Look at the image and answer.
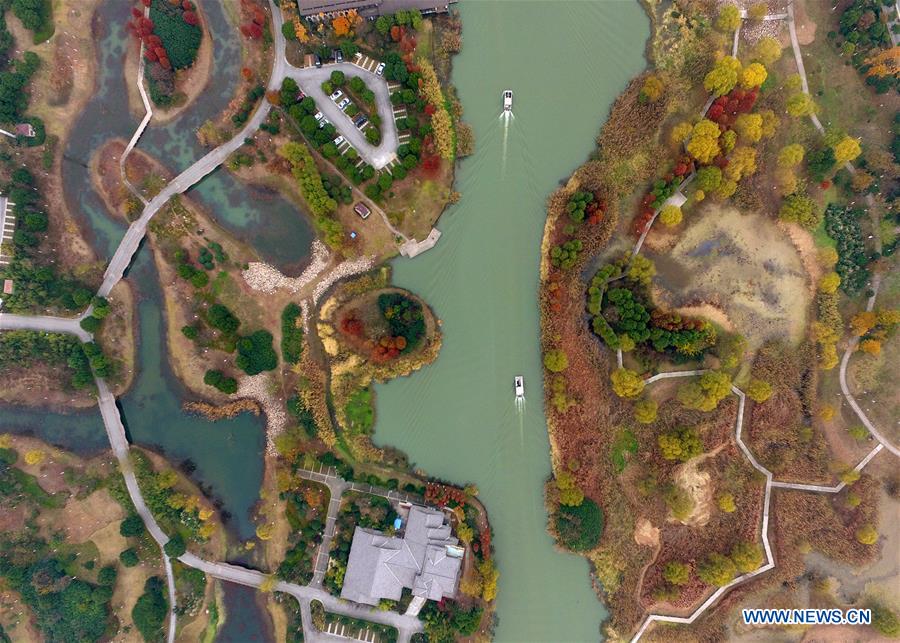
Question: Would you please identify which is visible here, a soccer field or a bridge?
bridge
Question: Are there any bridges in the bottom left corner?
Yes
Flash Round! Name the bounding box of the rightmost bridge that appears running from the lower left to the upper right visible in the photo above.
[166,143,231,197]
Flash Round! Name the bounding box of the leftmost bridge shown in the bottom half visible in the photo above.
[96,389,132,458]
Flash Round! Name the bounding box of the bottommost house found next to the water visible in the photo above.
[340,503,468,611]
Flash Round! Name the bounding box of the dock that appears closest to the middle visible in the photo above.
[400,228,441,258]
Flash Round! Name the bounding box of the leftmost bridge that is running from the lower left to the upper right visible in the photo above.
[98,220,150,288]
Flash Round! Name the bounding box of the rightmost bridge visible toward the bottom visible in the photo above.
[178,549,272,590]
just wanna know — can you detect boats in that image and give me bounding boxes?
[503,90,512,112]
[515,375,524,394]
